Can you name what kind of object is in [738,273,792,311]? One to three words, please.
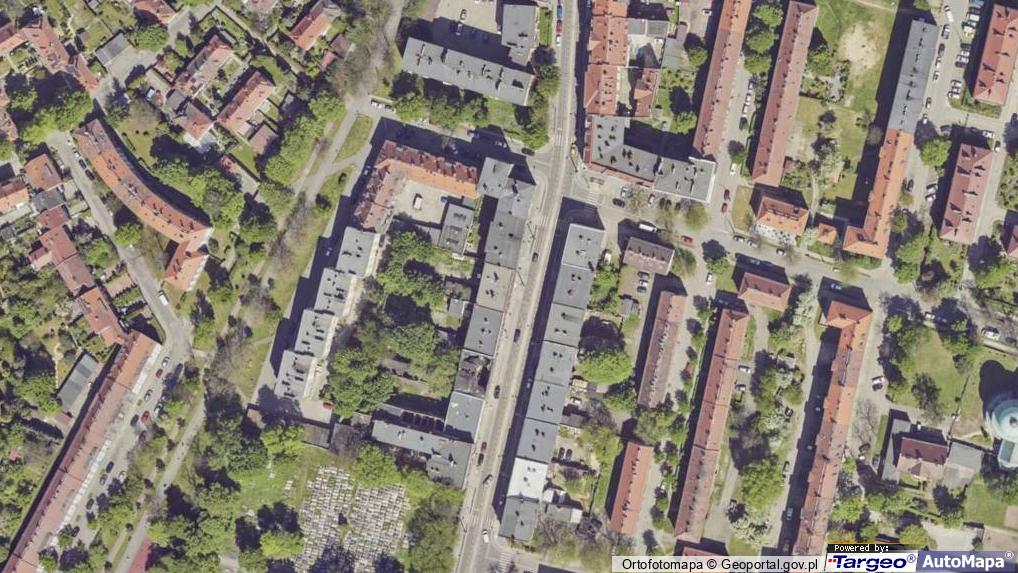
house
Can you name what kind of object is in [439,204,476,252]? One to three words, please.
building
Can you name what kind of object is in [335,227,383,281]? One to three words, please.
building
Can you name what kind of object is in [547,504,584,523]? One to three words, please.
shed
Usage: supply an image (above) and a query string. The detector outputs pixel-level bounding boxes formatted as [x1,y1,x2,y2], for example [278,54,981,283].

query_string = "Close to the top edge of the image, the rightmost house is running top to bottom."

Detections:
[973,3,1018,107]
